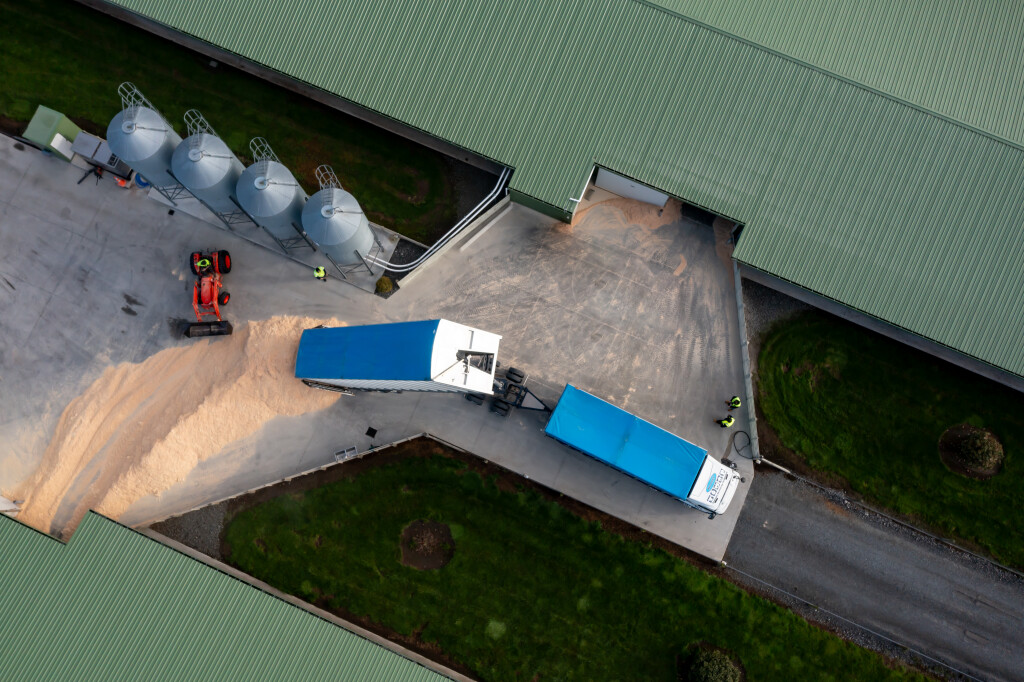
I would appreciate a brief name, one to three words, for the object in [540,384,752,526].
truck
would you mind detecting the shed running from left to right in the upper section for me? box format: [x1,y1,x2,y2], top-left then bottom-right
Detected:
[61,0,1024,397]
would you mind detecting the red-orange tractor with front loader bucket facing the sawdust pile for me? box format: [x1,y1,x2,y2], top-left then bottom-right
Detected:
[186,249,235,336]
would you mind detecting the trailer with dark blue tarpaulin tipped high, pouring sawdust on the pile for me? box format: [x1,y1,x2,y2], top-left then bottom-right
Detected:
[297,319,555,415]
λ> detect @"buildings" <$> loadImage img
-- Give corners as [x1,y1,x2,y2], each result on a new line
[61,0,1024,397]
[0,492,480,682]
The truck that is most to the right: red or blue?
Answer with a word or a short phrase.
blue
